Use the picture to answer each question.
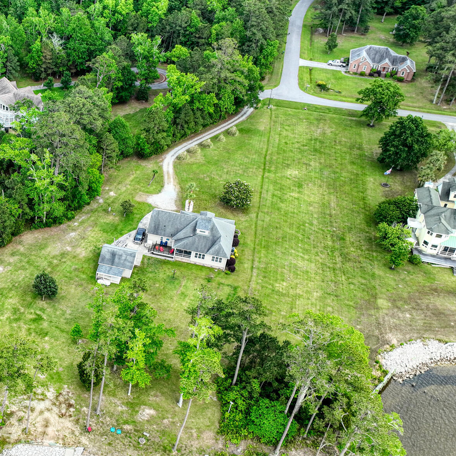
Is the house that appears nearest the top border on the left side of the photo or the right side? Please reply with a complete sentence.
The house that appears nearest the top border is on the right side of the image.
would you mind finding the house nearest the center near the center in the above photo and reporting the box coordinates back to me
[147,207,236,271]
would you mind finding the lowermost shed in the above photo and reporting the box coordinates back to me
[95,244,139,285]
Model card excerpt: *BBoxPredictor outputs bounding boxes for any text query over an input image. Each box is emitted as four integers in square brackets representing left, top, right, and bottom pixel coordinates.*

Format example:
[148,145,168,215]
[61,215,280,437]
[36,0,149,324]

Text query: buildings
[95,244,139,285]
[349,47,416,80]
[406,177,456,276]
[147,207,236,271]
[0,76,51,134]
